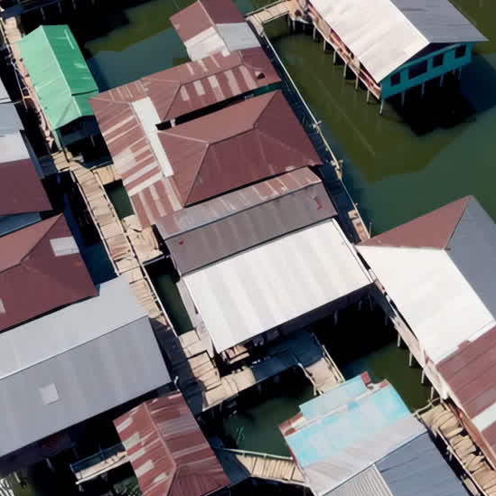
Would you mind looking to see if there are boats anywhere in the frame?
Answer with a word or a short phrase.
No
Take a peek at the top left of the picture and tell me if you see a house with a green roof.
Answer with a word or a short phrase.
Yes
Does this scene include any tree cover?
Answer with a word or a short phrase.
No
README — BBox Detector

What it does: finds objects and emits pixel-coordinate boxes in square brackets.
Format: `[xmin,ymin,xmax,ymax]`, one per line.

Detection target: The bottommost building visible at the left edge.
[0,273,172,477]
